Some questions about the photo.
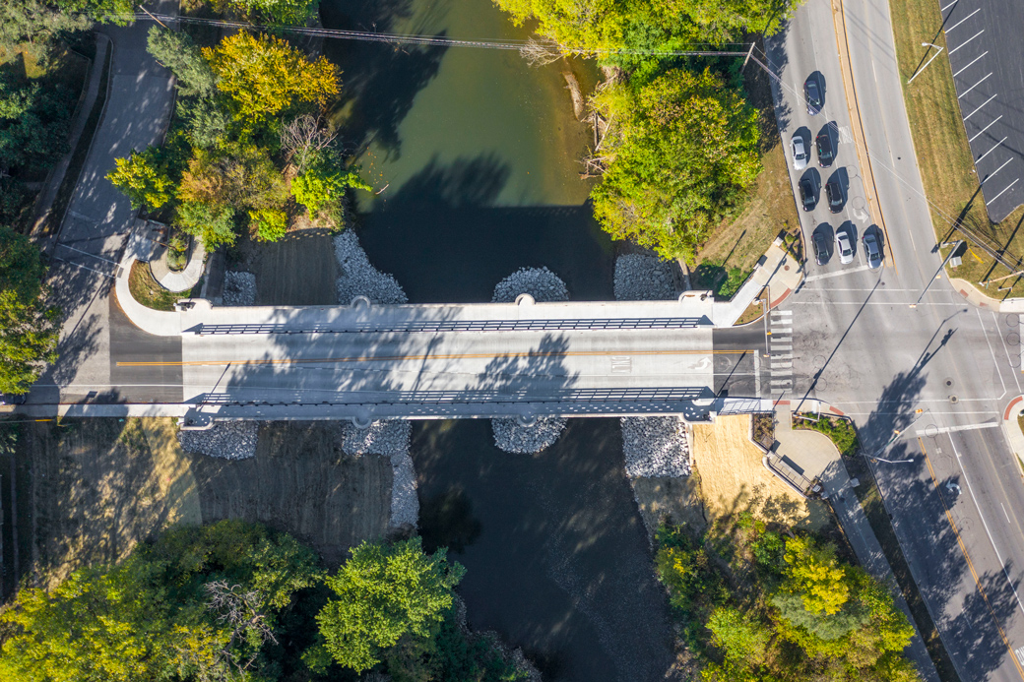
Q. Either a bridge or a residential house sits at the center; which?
bridge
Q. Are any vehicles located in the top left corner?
No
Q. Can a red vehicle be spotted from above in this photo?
No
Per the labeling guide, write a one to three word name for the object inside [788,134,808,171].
car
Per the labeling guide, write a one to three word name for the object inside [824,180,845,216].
car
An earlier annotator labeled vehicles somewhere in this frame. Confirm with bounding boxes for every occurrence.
[803,80,823,116]
[824,180,845,216]
[814,133,835,169]
[788,134,808,171]
[862,233,883,270]
[0,389,28,406]
[797,176,819,213]
[834,229,855,265]
[810,231,831,267]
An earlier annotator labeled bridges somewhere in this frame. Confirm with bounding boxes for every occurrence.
[175,287,719,433]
